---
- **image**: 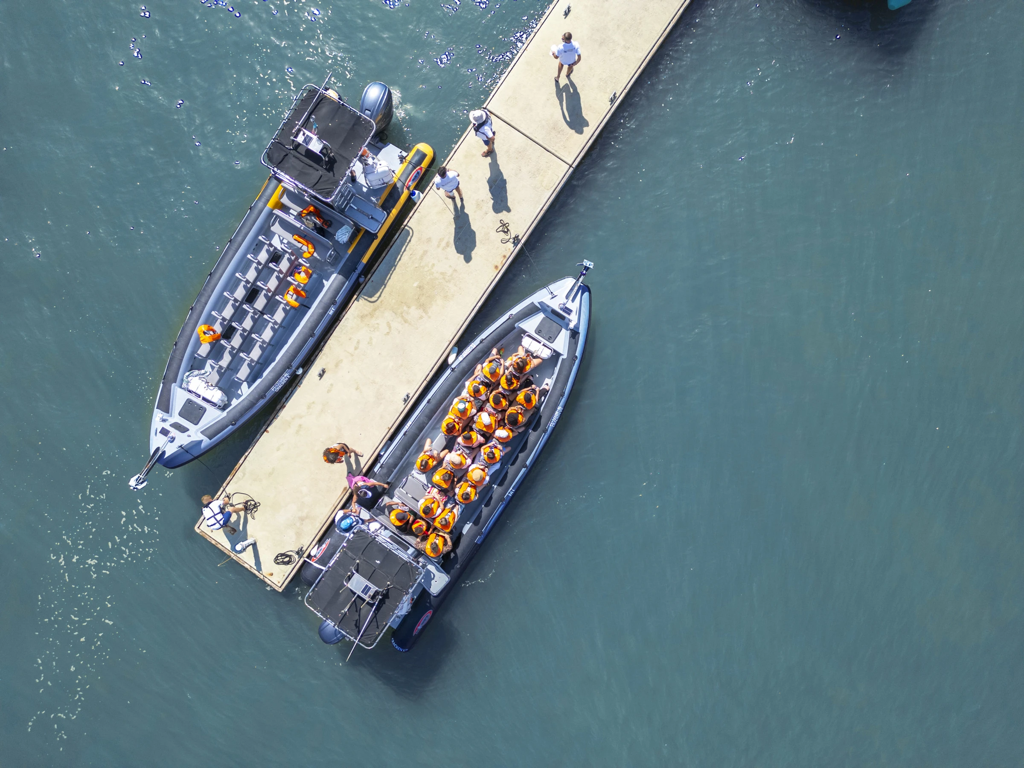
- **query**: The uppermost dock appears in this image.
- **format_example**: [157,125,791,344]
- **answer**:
[483,0,689,171]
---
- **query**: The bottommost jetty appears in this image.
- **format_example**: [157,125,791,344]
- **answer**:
[193,107,572,590]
